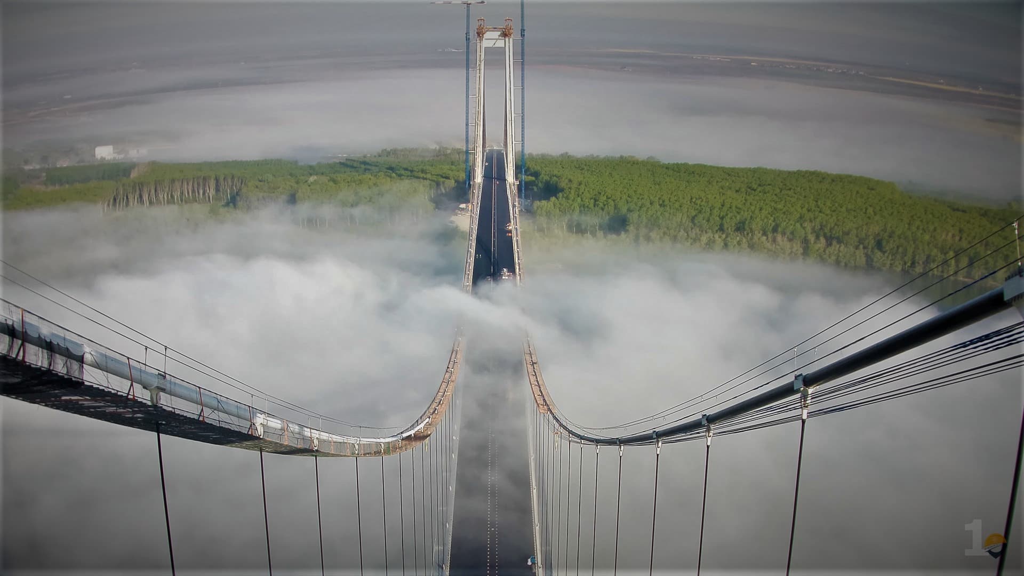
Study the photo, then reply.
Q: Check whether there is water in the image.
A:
Yes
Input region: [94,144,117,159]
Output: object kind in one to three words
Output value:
building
